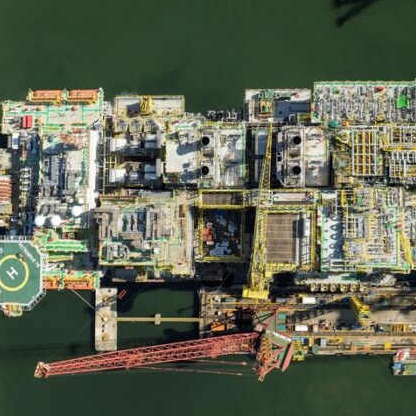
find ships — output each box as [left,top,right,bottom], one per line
[0,80,416,291]
[393,348,416,376]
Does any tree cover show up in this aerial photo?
No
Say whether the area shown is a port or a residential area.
port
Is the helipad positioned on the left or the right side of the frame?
left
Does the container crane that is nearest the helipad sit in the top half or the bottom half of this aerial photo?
bottom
